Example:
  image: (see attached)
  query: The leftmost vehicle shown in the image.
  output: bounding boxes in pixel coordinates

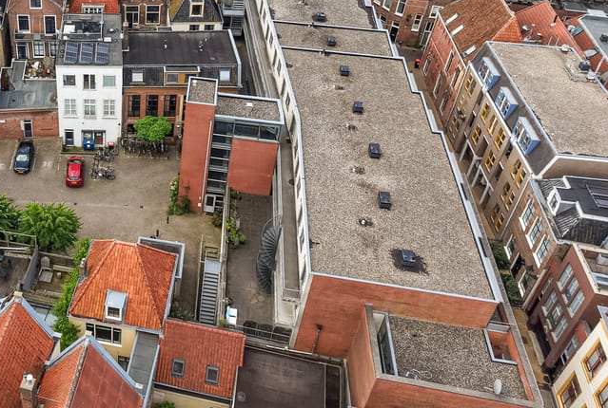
[11,140,34,175]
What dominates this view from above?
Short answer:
buildings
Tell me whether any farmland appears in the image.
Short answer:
No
